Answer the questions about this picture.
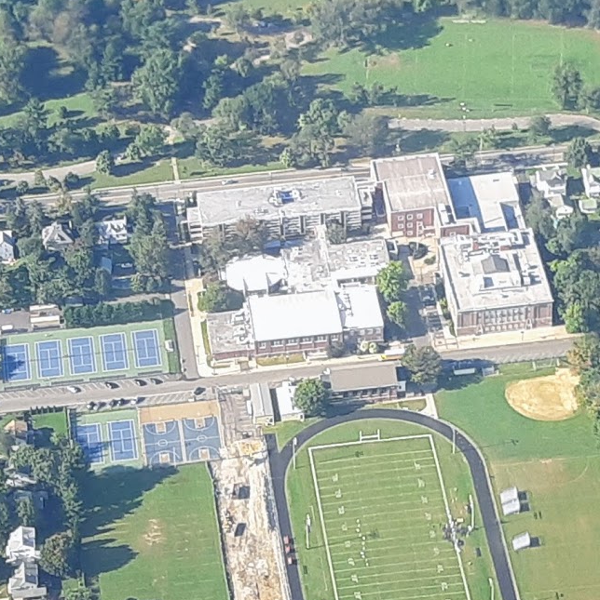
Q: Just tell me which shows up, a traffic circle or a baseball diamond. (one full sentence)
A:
It is a baseball diamond that can be seen here.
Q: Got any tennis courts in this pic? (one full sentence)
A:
Yes, looking at the shot, I can spot a tennis court.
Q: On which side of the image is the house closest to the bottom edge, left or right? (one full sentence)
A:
It is on the left.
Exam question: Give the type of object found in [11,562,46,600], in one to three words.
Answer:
house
